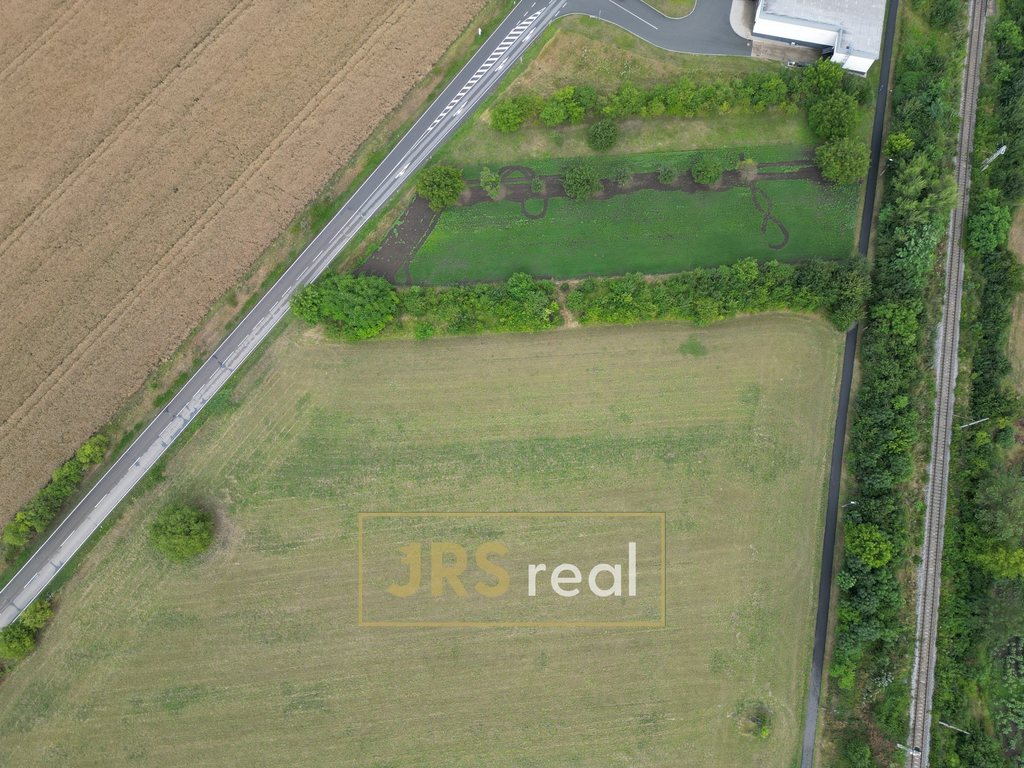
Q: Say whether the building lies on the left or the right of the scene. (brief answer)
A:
right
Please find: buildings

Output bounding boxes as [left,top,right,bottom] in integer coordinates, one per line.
[752,0,883,75]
